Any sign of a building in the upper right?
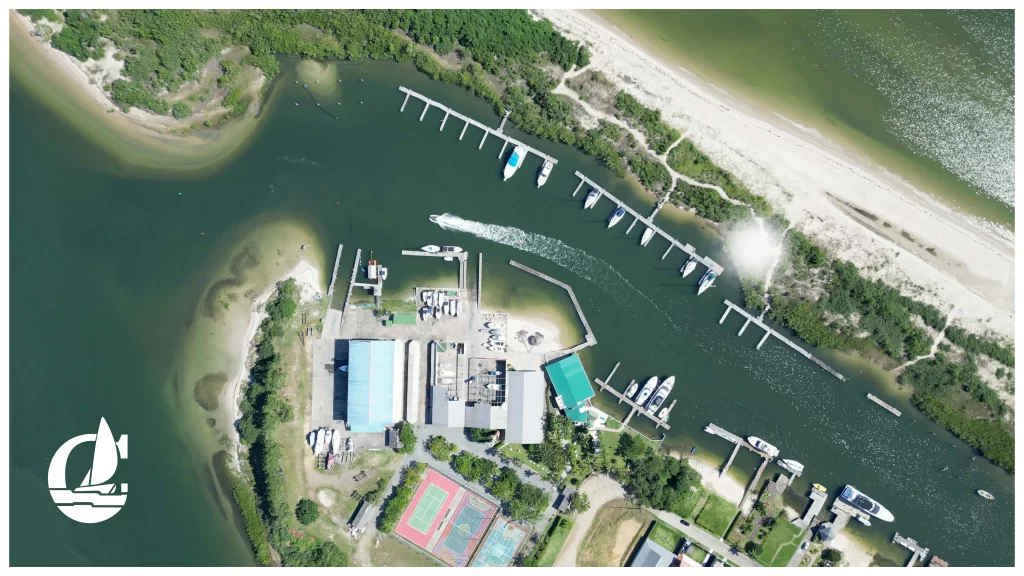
No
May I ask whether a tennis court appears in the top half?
No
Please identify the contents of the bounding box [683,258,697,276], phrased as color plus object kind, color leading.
white boat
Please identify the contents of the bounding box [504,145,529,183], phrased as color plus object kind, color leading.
white boat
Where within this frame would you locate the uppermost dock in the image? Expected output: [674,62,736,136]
[399,86,558,169]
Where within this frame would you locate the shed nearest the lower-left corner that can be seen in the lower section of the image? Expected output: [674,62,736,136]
[349,501,374,531]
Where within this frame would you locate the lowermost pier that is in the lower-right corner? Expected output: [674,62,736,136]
[891,532,929,573]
